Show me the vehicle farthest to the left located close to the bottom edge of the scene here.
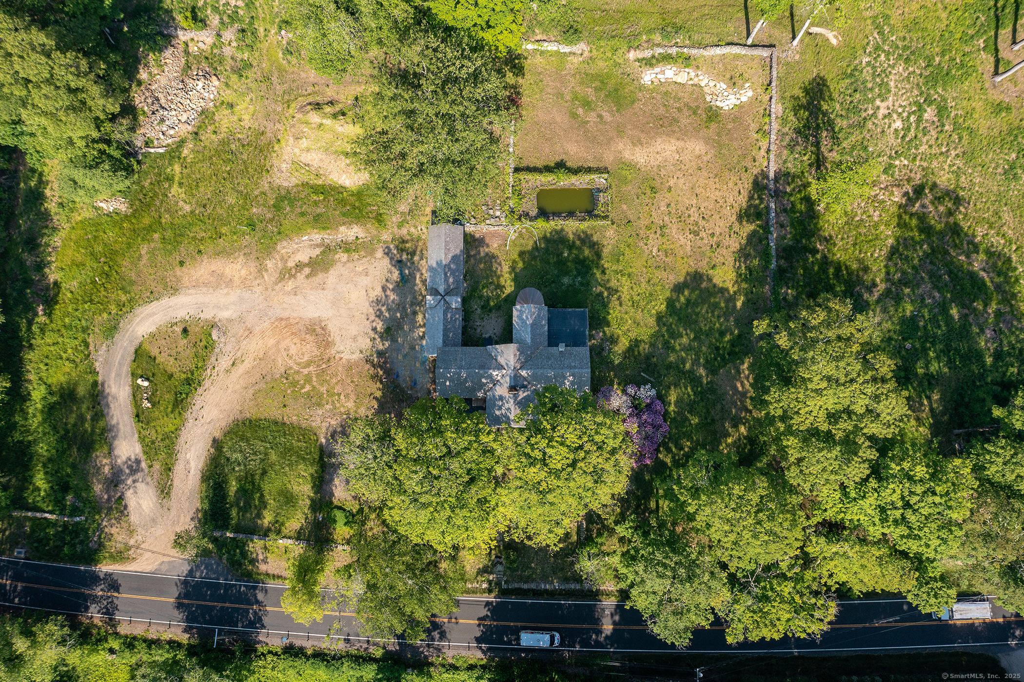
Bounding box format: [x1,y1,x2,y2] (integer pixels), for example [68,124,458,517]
[520,631,561,650]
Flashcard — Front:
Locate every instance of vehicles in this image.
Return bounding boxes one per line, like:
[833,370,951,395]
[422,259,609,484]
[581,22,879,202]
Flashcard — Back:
[520,631,561,650]
[930,601,993,624]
